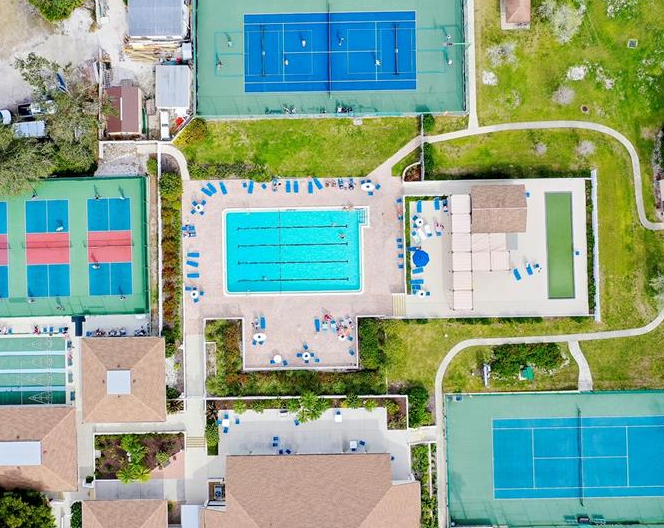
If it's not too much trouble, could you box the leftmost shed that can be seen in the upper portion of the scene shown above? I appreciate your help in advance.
[106,87,142,136]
